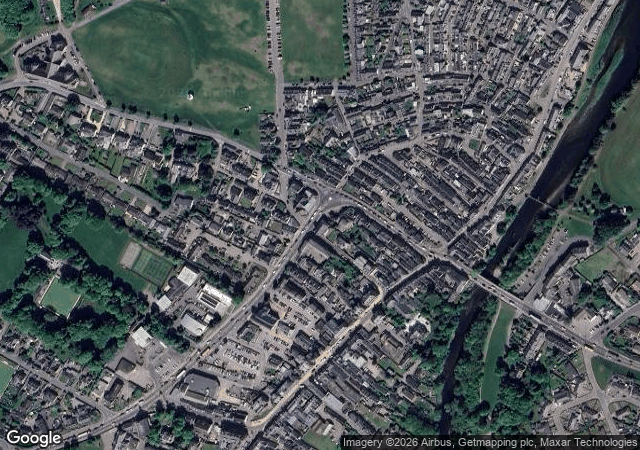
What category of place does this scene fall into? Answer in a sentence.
This looks like a residential area.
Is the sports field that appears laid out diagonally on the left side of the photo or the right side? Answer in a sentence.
It is on the left.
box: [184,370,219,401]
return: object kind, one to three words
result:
building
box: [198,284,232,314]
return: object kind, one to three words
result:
building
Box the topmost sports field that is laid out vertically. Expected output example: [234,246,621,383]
[0,218,28,301]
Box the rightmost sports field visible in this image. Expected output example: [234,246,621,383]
[74,216,158,296]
